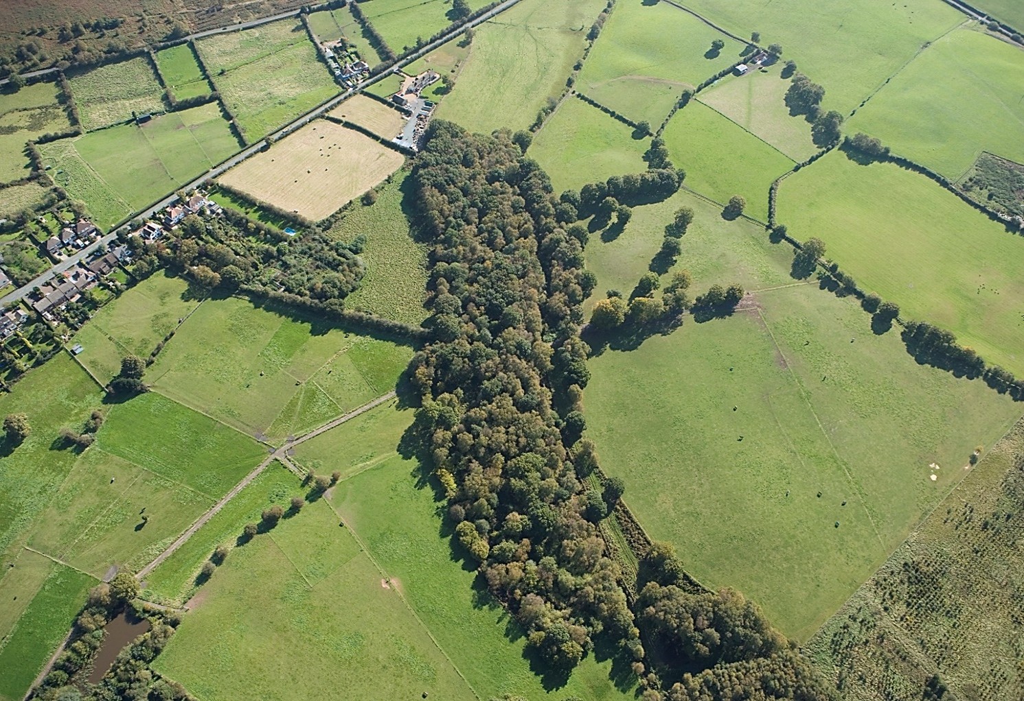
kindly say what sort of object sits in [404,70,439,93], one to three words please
house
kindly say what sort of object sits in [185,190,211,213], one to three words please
house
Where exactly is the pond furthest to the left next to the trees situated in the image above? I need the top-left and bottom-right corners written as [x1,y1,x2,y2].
[90,607,151,684]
